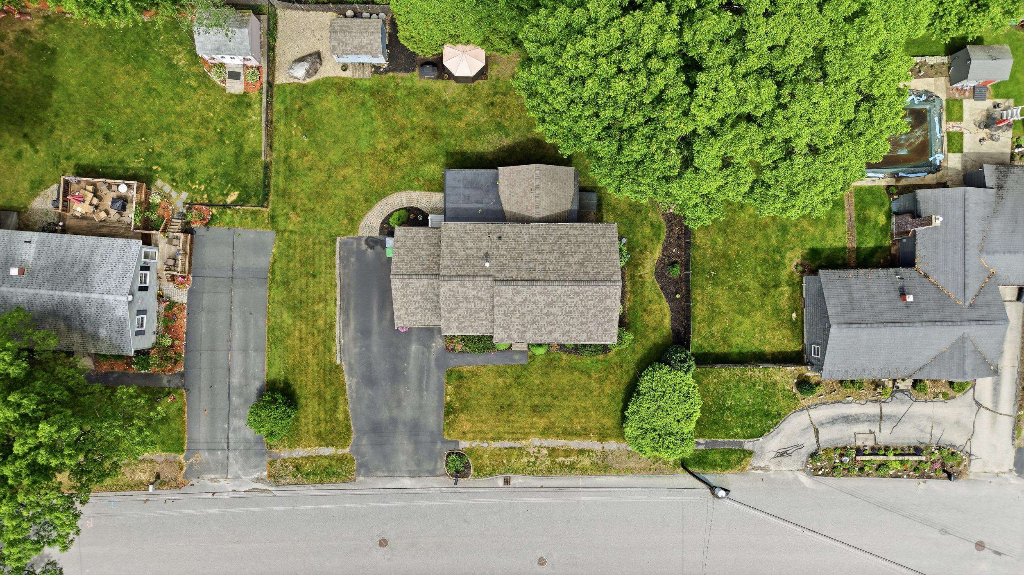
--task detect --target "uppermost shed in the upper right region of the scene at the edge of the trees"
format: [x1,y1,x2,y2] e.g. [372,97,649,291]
[950,47,1013,87]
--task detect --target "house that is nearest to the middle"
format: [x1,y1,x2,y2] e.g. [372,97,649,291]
[392,162,620,345]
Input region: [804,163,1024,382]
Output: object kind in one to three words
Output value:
house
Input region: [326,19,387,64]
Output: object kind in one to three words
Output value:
shed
